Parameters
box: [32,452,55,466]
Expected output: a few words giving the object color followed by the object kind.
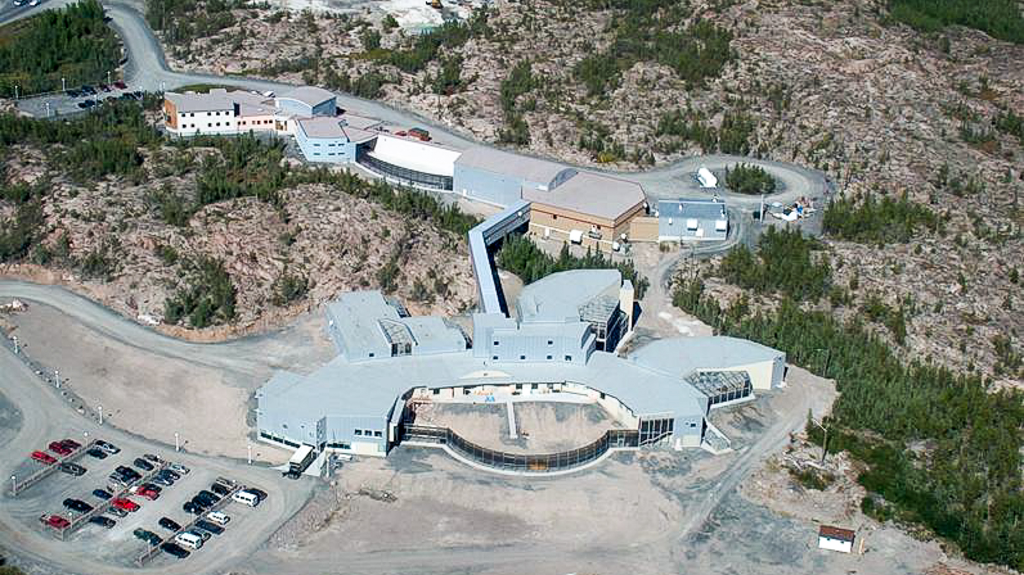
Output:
red car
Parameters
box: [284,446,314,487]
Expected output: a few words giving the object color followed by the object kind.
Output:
white truck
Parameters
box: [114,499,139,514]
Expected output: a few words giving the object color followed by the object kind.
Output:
red car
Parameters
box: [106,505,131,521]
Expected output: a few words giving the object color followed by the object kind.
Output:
gray car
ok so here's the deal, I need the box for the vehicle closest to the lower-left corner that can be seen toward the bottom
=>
[44,516,69,531]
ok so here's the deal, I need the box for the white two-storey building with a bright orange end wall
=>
[164,89,235,136]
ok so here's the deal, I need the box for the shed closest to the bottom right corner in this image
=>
[819,524,854,553]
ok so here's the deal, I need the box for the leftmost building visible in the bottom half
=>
[254,269,786,460]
